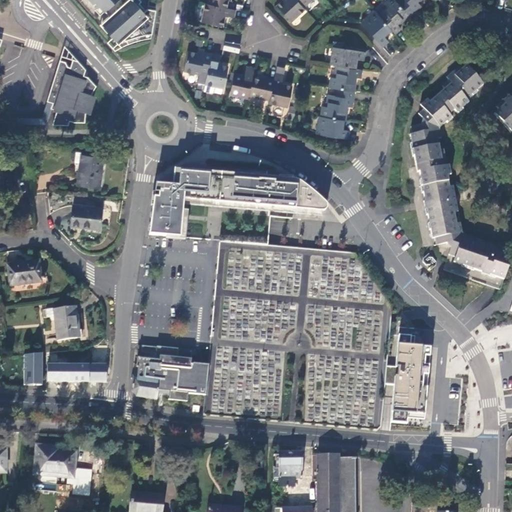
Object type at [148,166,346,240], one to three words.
building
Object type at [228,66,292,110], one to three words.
house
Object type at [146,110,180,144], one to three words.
roundabout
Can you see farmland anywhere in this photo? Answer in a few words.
No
